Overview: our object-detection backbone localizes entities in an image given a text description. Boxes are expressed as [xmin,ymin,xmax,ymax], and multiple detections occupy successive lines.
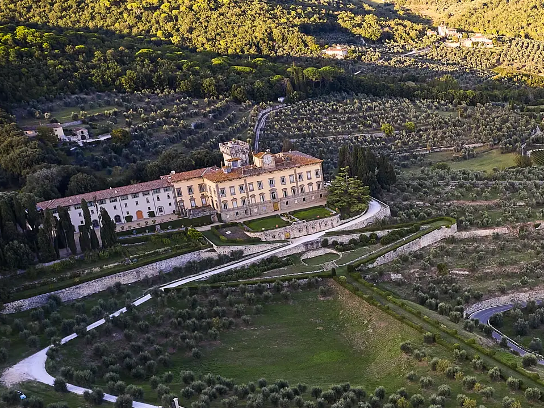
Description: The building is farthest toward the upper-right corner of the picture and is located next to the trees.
[461,33,495,49]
